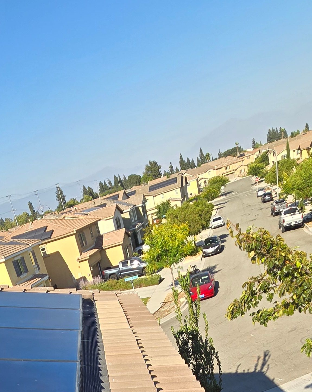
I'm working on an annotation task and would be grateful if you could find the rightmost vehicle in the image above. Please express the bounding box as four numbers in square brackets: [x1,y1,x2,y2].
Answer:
[277,203,306,232]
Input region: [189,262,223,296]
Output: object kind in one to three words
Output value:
car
